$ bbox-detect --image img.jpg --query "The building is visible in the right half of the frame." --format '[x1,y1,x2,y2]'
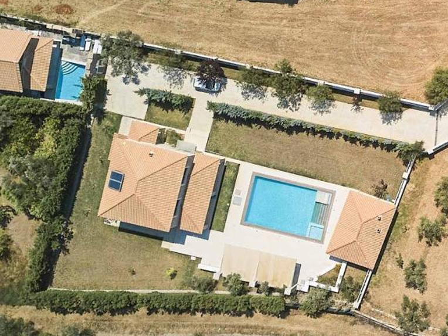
[325,190,395,271]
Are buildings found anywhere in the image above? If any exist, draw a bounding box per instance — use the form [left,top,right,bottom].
[0,30,61,93]
[325,190,395,271]
[97,118,221,234]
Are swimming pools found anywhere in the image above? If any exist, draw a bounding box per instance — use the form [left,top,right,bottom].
[52,58,88,103]
[239,172,333,244]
